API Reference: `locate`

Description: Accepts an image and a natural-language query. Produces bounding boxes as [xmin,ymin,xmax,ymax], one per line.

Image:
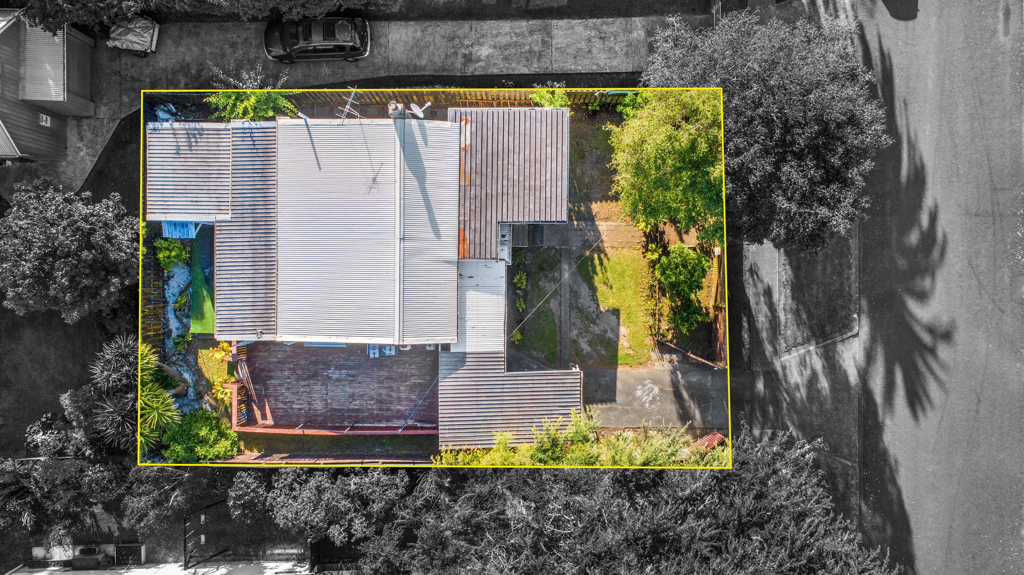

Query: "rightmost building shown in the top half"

[146,97,571,351]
